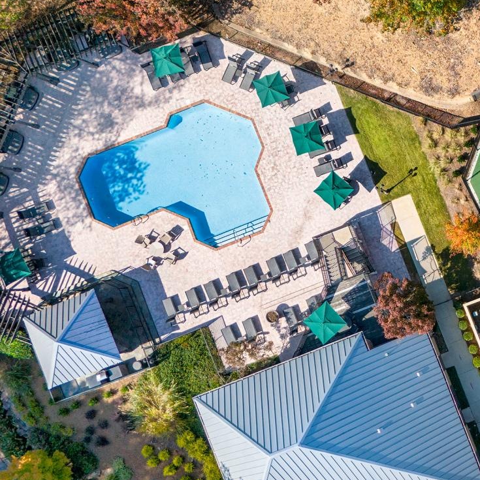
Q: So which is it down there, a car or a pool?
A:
pool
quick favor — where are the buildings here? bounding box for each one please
[192,330,480,480]
[22,288,138,391]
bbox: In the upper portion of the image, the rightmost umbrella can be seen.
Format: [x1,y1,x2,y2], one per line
[316,168,356,209]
